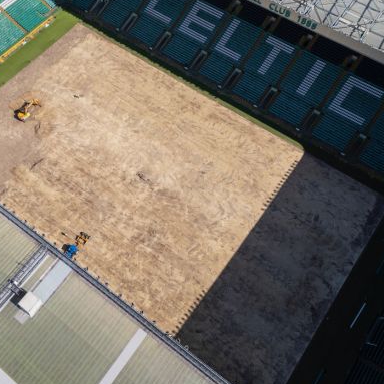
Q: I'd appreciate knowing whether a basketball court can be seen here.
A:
No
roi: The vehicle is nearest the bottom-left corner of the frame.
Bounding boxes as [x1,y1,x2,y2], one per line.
[64,239,80,259]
